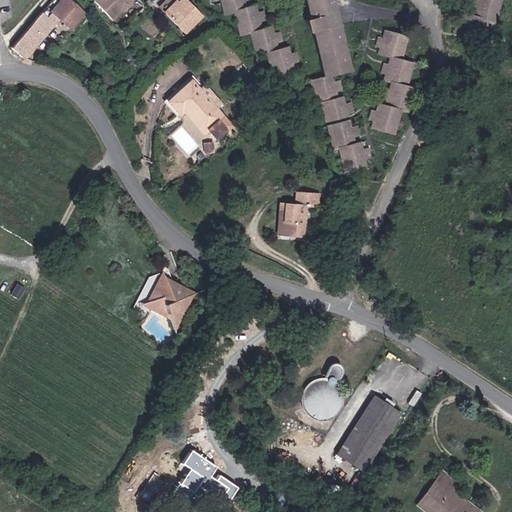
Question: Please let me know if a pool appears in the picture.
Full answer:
Yes, a pool is visible in the scene.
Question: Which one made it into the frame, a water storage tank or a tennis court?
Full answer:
The image shows a water storage tank.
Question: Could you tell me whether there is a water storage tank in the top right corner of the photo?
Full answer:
No, no water storage tank can be made out in the top right corner of the photo.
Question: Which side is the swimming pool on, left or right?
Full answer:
You can find the swimming pool on the left side of the picture.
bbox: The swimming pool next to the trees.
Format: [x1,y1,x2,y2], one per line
[141,310,172,344]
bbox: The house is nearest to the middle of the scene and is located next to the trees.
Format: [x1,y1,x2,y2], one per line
[278,192,320,239]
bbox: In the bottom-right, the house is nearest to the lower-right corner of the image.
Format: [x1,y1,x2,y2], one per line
[416,471,483,512]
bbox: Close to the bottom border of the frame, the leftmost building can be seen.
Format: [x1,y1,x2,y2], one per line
[180,450,239,500]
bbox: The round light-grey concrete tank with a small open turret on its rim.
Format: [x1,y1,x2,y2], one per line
[296,364,344,430]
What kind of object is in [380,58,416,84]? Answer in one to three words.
house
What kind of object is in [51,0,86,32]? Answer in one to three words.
house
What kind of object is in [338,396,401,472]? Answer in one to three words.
building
